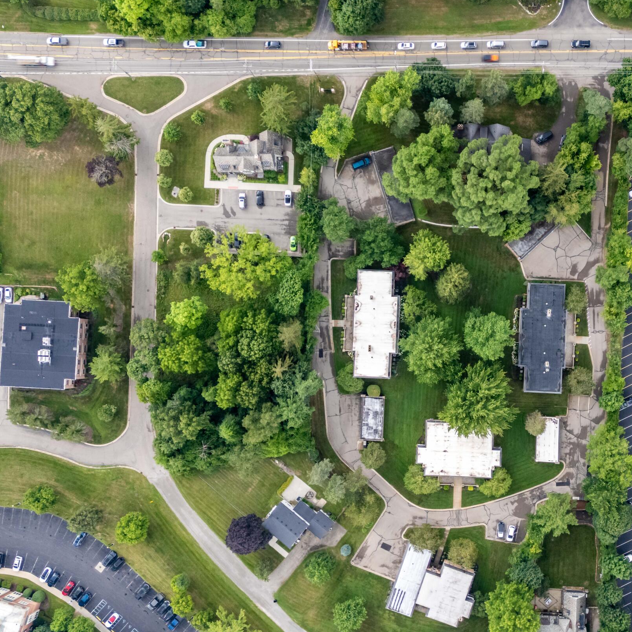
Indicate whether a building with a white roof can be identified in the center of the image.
Yes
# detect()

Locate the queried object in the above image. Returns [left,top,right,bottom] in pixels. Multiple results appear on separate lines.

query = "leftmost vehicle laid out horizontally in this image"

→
[0,50,55,65]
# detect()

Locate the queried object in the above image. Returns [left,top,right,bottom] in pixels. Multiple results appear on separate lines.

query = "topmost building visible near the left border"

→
[0,300,89,390]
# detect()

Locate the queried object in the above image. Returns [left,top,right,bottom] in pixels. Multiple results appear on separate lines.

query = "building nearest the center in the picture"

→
[352,269,401,379]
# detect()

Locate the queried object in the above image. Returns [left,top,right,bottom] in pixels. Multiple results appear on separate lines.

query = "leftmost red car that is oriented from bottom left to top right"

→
[60,581,75,597]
